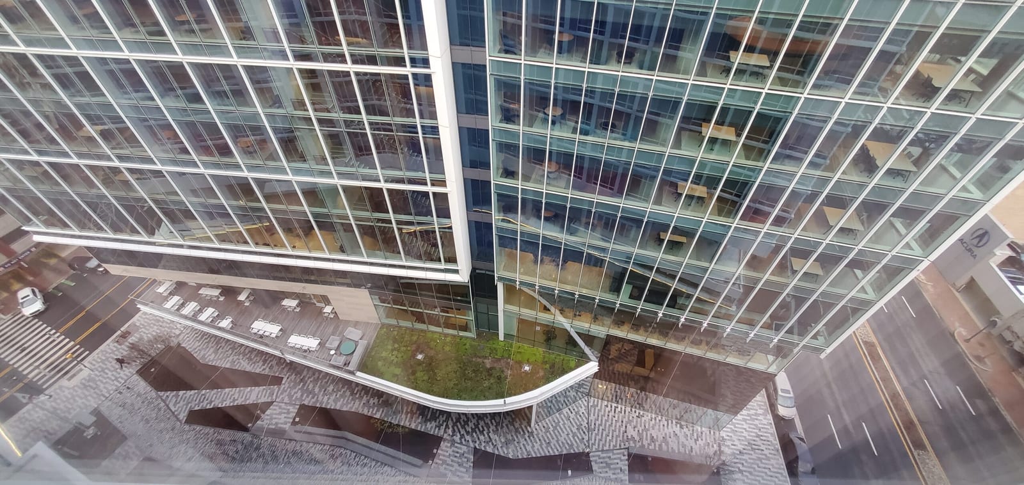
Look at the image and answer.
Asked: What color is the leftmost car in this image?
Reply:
white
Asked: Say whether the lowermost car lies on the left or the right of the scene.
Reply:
right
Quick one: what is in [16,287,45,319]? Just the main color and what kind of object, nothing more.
white car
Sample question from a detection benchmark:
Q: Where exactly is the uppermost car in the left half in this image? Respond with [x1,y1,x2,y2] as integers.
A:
[74,256,104,281]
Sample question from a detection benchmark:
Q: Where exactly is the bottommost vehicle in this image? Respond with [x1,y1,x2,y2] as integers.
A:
[785,439,822,485]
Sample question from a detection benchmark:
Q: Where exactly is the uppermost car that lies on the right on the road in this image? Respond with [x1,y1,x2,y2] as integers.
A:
[767,373,798,420]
